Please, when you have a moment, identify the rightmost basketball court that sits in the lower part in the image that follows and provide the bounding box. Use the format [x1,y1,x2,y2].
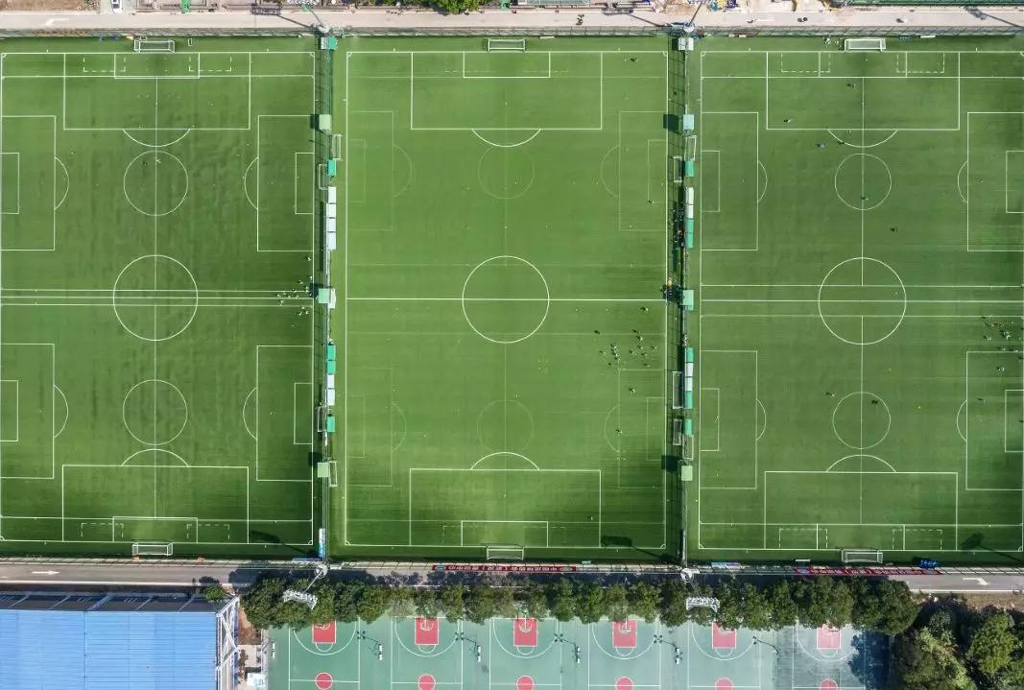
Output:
[776,617,892,690]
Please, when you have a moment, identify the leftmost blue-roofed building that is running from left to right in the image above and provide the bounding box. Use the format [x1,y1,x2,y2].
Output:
[0,591,238,690]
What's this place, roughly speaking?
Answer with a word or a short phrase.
sports ground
